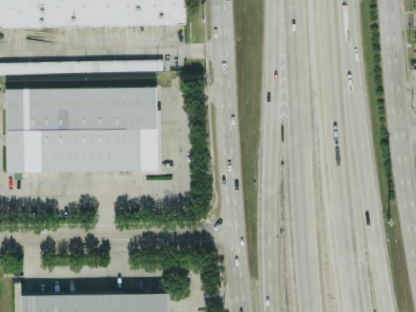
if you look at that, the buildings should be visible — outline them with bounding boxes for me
[0,0,186,28]
[22,294,169,312]
[0,60,164,75]
[5,88,161,174]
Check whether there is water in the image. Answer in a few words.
No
